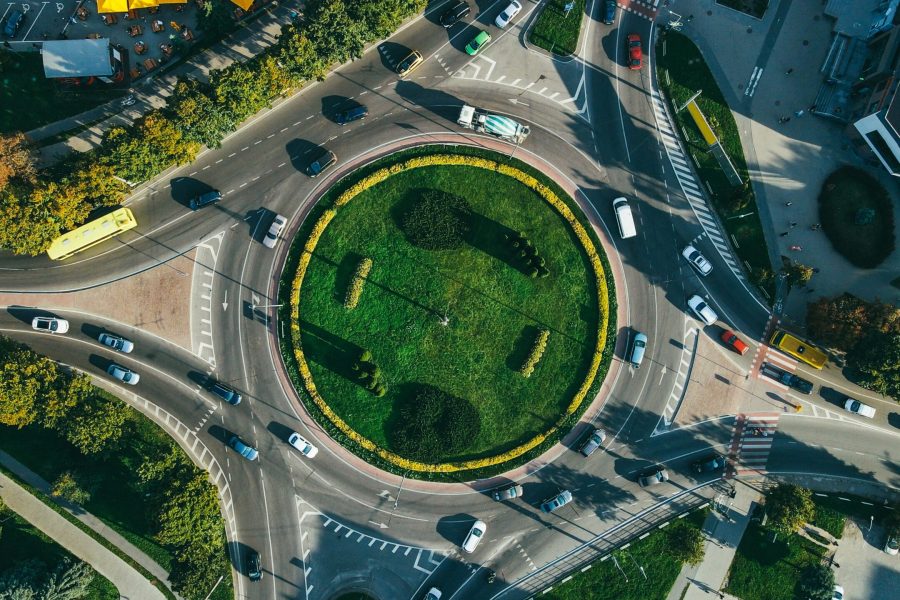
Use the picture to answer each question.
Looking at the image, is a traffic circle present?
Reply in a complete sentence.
Yes, the picture does show a traffic circle.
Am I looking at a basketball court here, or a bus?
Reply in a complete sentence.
It is a bus that can be seen here.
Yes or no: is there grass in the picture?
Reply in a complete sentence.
Yes, there's grass in this view.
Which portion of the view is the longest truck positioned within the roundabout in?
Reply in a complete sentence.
Look in the top portion of the view to spot the longest truck positioned within the roundabout.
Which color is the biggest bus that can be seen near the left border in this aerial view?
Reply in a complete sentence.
The color of the biggest bus that can be seen near the left border is yellow.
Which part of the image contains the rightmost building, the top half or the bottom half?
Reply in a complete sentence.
The rightmost building is in the top half of the image.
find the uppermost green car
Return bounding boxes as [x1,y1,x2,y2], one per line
[463,29,493,59]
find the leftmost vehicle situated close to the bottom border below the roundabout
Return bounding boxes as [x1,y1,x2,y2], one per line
[245,547,264,580]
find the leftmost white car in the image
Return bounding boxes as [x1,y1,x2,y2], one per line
[29,316,69,335]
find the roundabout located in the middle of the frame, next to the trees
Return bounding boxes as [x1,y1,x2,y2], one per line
[212,77,684,549]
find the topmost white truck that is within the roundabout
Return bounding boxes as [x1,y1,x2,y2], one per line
[454,101,529,142]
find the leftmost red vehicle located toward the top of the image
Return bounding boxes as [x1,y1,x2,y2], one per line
[625,35,644,72]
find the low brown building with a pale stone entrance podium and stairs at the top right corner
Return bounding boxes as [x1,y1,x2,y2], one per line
[813,0,900,180]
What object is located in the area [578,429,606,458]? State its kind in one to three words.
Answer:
car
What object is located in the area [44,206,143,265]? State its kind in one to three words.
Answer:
bus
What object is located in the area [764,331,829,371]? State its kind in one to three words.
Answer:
vehicle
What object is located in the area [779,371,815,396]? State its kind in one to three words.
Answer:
car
